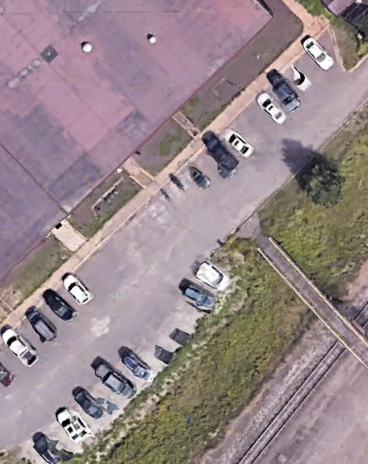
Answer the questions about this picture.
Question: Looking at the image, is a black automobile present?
Yes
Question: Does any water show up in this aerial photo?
No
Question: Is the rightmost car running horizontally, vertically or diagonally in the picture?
diagonally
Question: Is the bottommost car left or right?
left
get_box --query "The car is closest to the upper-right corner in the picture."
[299,35,335,72]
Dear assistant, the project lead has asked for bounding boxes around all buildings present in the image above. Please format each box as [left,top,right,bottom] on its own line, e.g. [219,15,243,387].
[324,0,368,46]
[0,0,279,289]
